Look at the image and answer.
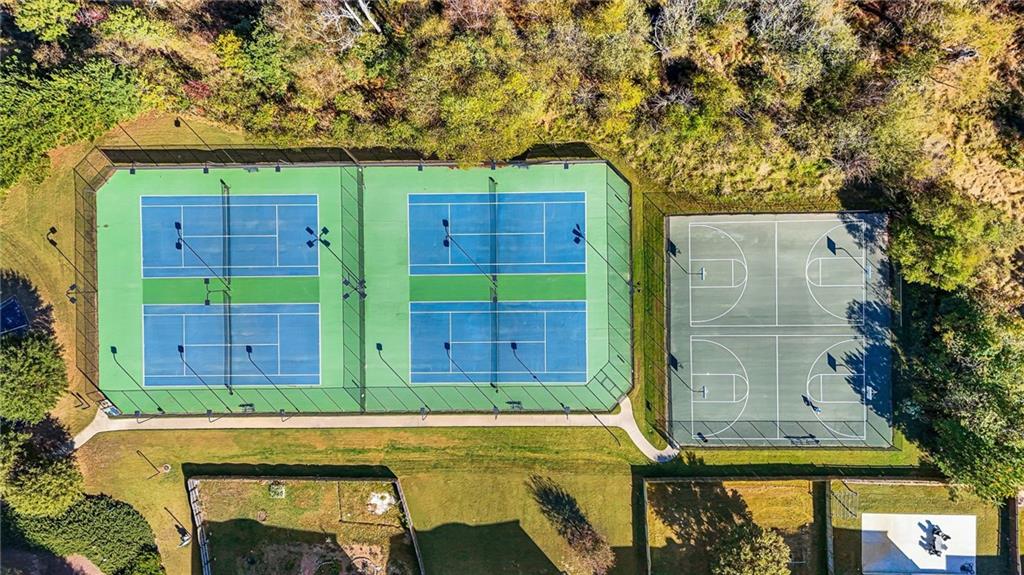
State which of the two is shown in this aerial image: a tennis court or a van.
tennis court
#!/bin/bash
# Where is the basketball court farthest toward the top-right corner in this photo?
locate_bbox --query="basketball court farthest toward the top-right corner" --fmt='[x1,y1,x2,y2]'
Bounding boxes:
[688,220,866,326]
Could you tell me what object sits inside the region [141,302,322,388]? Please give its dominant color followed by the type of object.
blue tennis court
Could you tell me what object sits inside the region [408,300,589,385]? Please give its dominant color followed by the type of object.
blue tennis court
